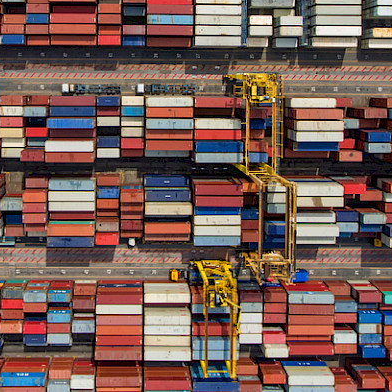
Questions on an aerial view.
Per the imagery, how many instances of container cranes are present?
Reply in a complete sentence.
There are 3 container cranes in the image.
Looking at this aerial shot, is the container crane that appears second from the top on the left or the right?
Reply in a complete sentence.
It is on the right.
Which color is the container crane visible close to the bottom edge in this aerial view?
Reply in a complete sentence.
The container crane visible close to the bottom edge looks yellow in the image.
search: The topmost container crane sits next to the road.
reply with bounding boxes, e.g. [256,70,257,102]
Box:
[225,68,284,176]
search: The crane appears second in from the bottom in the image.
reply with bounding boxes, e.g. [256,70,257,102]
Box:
[234,166,295,285]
